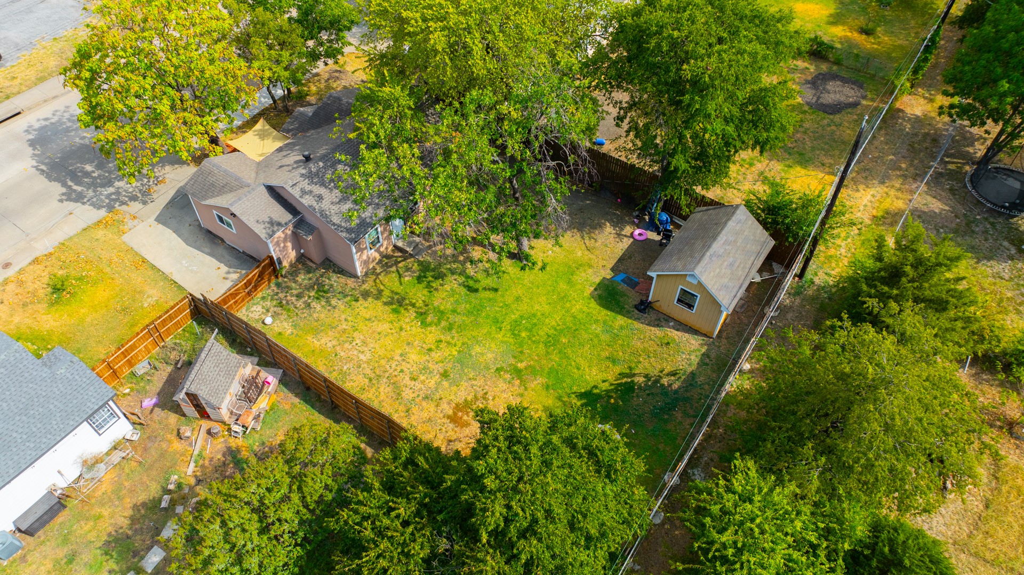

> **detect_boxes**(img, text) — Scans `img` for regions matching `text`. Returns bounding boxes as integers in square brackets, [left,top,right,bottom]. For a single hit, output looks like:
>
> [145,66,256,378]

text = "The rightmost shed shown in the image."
[642,202,777,337]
